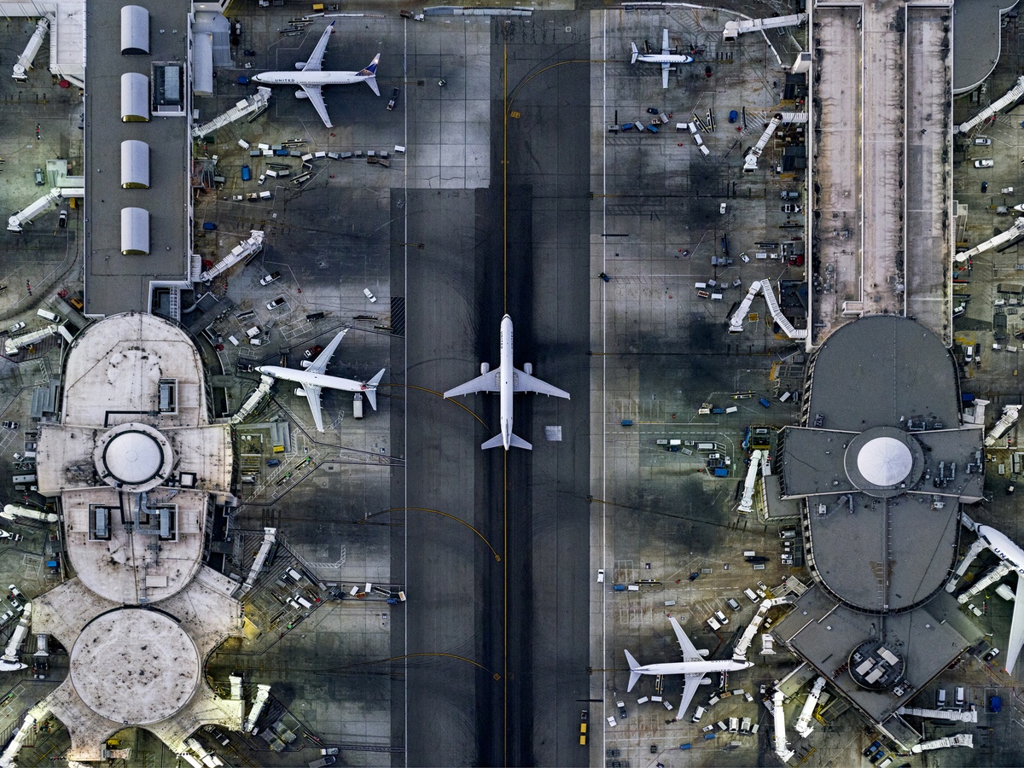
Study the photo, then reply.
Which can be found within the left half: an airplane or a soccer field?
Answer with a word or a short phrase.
airplane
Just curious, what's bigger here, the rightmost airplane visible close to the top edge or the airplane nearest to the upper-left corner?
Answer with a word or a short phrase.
the airplane nearest to the upper-left corner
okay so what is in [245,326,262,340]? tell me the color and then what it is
white vehicle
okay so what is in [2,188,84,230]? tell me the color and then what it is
white jet bridge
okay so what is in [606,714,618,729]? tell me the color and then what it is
white vehicle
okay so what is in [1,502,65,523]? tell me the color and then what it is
white jet bridge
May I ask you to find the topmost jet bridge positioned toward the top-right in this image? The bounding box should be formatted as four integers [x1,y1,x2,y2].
[721,14,805,46]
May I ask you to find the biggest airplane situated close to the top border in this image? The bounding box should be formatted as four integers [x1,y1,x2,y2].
[252,21,380,128]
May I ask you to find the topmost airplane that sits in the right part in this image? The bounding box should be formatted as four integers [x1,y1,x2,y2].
[633,29,693,88]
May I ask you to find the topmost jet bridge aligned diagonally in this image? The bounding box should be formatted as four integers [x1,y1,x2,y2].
[5,13,56,82]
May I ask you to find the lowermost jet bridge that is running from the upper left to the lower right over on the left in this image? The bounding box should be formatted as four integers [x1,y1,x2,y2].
[185,735,233,768]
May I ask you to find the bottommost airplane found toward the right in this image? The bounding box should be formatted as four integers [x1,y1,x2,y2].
[623,614,754,722]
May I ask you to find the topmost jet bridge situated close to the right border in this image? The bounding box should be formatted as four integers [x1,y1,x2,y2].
[954,77,1024,139]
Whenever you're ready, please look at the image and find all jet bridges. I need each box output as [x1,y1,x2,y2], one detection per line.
[0,602,34,663]
[794,674,828,744]
[725,594,787,663]
[2,188,84,230]
[0,708,37,768]
[954,210,1024,267]
[66,758,100,768]
[954,77,1024,139]
[768,690,800,767]
[895,705,982,725]
[185,735,233,768]
[908,731,977,756]
[735,447,763,516]
[243,679,276,733]
[727,278,805,341]
[1,502,65,523]
[229,369,280,426]
[955,559,1017,604]
[984,399,1021,450]
[940,536,990,593]
[191,227,266,286]
[721,14,805,46]
[5,13,56,82]
[741,112,805,172]
[0,322,75,358]
[190,81,270,143]
[238,523,281,594]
